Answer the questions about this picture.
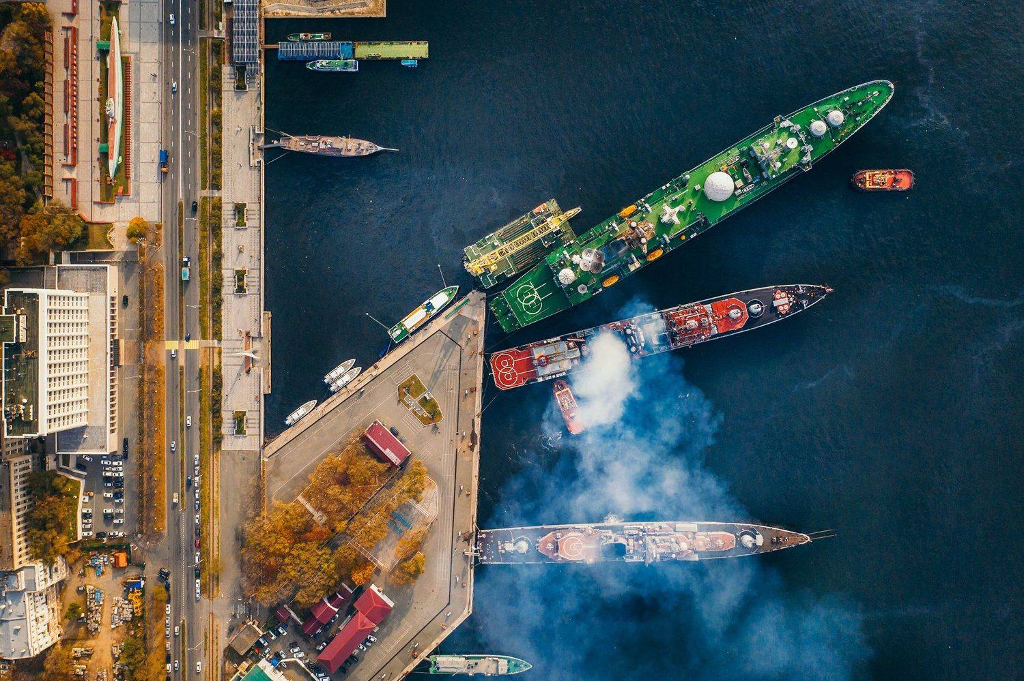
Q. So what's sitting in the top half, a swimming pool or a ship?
ship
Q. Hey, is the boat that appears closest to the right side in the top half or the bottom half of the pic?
top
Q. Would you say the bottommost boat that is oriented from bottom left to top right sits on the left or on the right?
left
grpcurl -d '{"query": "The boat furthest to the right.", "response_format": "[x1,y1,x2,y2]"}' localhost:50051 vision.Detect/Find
[851,169,916,191]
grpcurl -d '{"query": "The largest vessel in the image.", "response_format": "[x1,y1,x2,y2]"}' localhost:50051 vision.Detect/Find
[480,79,895,353]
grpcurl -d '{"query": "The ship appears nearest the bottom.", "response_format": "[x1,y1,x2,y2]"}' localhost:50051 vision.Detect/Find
[407,651,532,677]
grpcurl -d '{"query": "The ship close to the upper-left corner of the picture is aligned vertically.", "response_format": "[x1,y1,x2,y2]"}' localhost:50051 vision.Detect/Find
[106,16,126,179]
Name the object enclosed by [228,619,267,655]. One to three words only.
building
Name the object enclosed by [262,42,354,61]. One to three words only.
pier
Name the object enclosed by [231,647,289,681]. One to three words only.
building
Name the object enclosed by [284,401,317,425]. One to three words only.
boat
